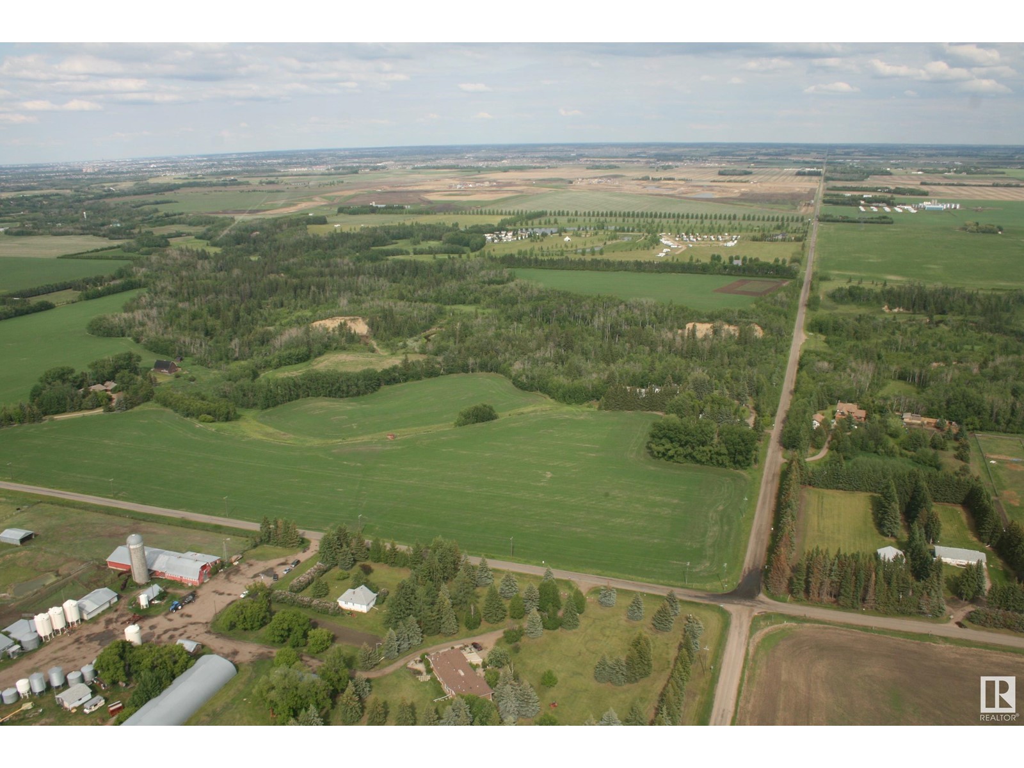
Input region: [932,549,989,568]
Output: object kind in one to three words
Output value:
house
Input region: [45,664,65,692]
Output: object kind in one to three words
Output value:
silo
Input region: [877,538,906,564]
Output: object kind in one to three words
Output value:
building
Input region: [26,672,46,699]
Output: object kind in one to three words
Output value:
silo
